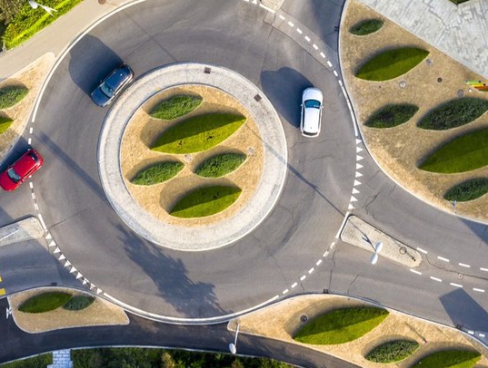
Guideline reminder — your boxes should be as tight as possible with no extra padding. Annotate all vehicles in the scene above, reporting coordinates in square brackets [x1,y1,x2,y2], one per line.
[91,62,137,107]
[0,147,46,191]
[299,88,325,137]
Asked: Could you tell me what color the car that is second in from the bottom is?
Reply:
white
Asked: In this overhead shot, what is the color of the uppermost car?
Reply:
blue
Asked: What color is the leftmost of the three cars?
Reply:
red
